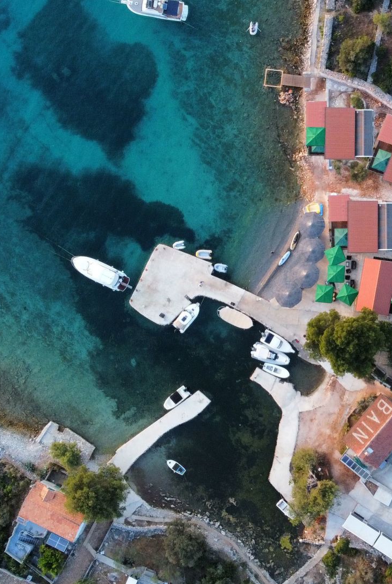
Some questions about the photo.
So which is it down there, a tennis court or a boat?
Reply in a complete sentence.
There is a boat in the scene.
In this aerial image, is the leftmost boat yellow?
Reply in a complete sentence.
No, the leftmost boat is white.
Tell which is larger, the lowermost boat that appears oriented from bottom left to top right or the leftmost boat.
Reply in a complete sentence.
Of the two, the leftmost boat is bigger, while the lowermost boat that appears oriented from bottom left to top right is smaller.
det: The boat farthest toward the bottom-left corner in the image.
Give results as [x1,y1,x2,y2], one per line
[167,460,186,475]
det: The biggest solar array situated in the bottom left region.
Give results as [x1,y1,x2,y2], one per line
[46,532,69,552]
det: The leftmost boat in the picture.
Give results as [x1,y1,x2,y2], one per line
[69,258,132,295]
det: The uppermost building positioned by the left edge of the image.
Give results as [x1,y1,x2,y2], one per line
[4,475,89,564]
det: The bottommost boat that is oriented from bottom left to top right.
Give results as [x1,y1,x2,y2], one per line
[163,385,191,408]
